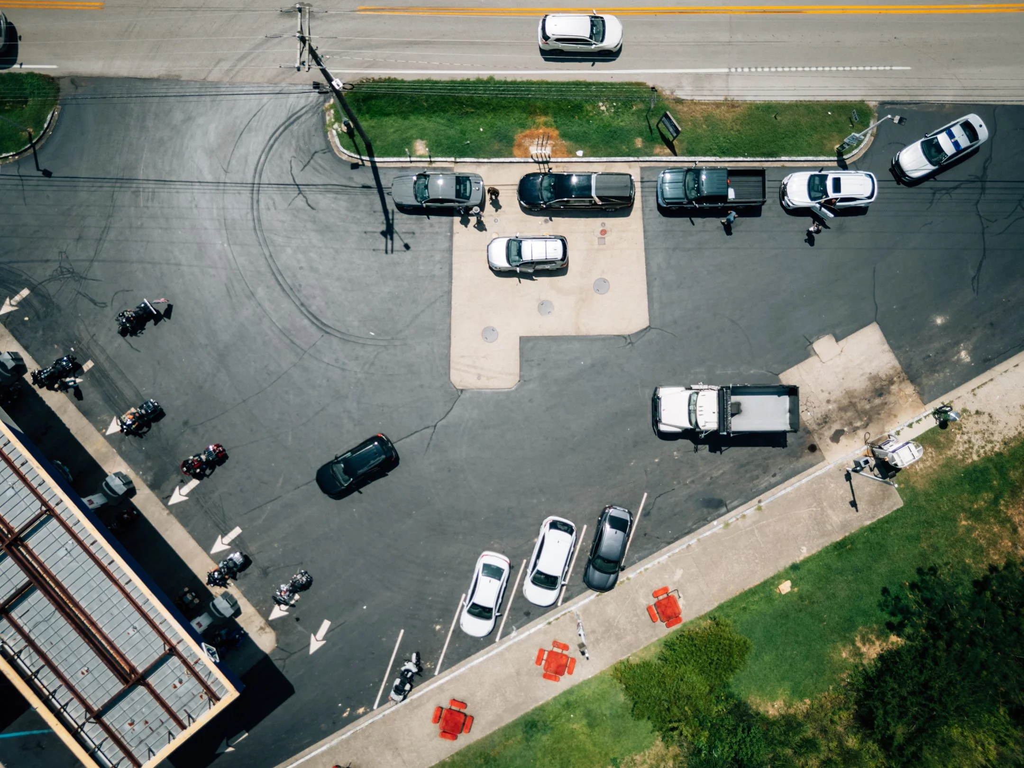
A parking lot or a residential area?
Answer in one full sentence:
This looks like a parking lot.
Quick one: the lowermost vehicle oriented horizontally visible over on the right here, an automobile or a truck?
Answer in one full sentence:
The lowermost vehicle oriented horizontally visible over on the right in the image is a truck.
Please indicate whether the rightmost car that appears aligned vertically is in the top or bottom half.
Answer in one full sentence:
You can find the rightmost car that appears aligned vertically in the bottom half.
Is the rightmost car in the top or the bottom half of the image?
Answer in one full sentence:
Seen from above, the rightmost car lies in the top half of the view.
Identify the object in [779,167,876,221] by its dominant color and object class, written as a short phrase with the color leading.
white car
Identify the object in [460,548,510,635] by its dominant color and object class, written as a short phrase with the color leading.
white car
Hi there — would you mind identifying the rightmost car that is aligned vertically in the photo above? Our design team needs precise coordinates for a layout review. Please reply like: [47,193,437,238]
[584,503,630,590]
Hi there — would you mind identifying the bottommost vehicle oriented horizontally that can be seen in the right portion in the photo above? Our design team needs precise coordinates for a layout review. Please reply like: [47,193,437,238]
[648,376,802,443]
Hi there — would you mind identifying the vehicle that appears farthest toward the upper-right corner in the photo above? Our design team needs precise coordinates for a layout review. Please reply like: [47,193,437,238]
[889,117,987,186]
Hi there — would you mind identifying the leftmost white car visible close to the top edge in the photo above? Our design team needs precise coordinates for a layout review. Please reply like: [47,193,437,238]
[538,9,622,56]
